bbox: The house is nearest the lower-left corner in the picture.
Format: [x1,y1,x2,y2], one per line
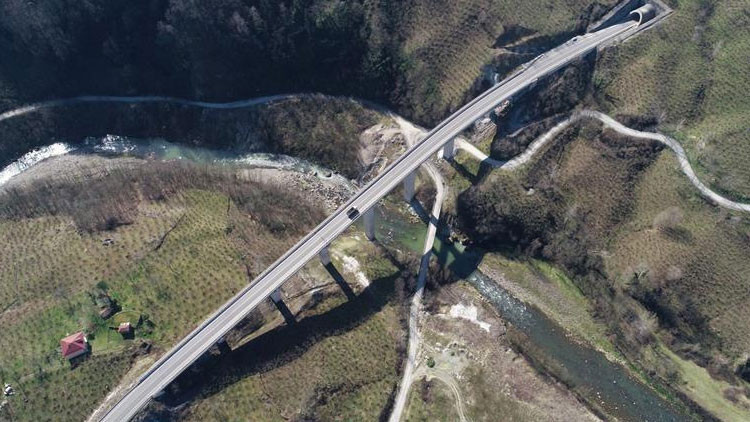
[54,331,83,359]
